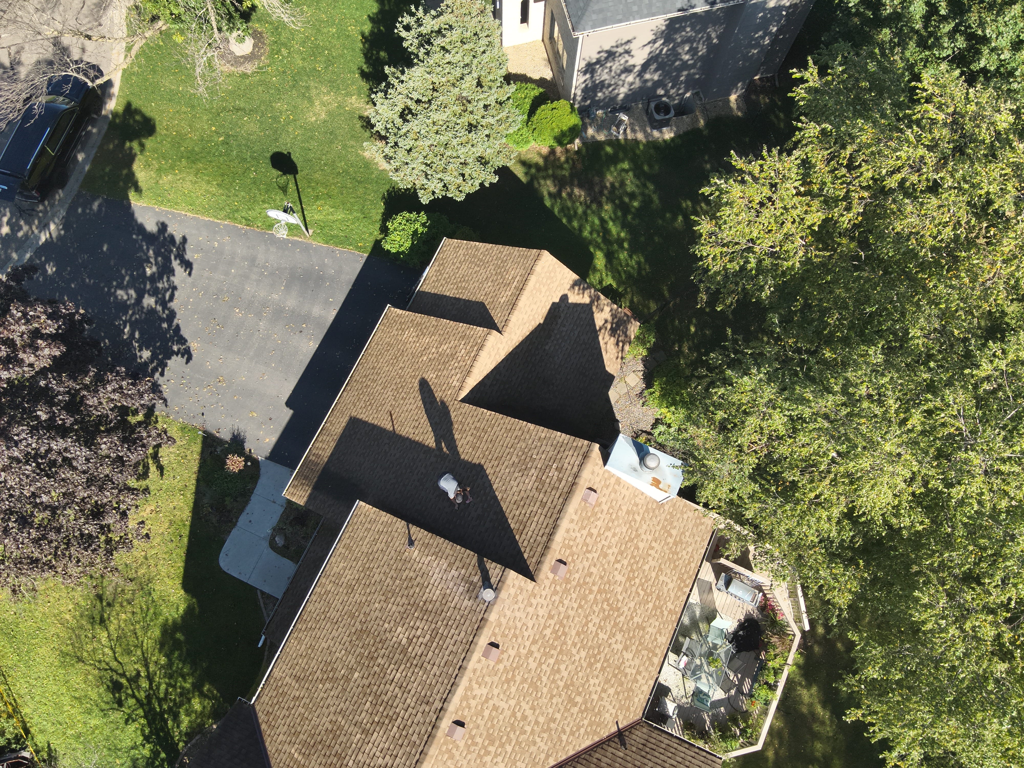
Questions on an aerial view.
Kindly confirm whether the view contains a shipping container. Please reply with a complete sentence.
No, the picture doesn't show any shipping container.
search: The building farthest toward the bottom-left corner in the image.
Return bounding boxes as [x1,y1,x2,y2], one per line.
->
[184,238,725,768]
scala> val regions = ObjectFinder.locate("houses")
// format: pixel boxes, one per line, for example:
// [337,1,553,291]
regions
[489,0,807,129]
[184,238,725,768]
